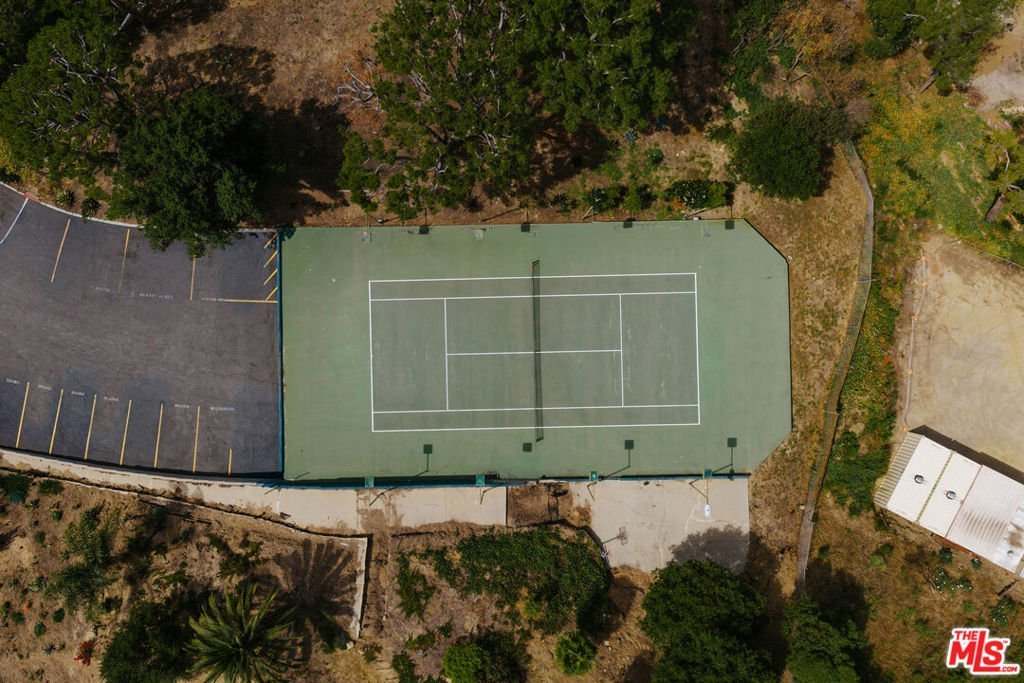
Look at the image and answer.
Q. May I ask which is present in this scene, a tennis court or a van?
tennis court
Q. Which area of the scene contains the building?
bottom right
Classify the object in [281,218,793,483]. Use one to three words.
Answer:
tennis court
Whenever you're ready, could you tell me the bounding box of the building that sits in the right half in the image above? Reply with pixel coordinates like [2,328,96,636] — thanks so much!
[873,433,1024,577]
